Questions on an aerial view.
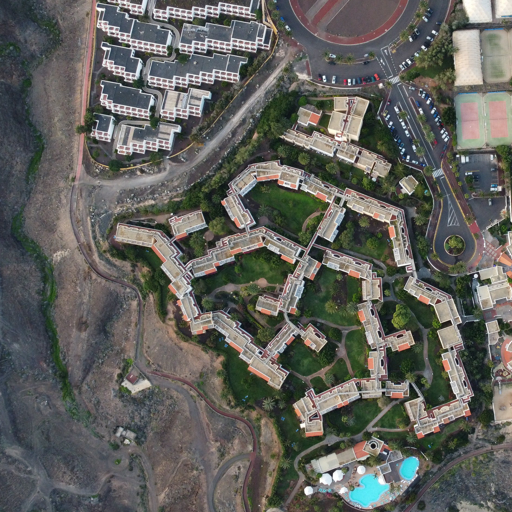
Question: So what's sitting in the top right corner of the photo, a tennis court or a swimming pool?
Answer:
tennis court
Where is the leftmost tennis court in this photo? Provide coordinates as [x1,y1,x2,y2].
[455,91,486,148]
